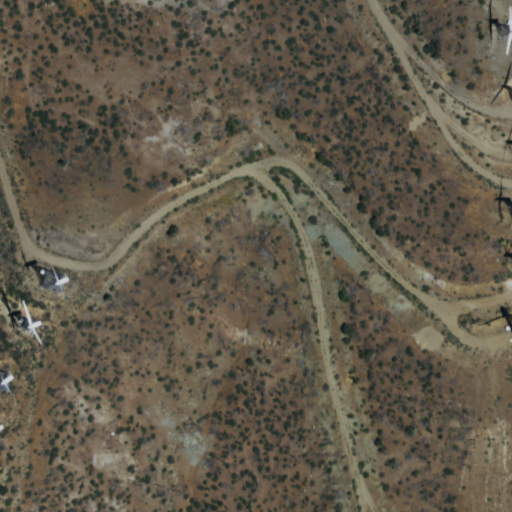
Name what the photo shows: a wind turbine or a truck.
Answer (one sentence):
I can see a wind turbine in this picture.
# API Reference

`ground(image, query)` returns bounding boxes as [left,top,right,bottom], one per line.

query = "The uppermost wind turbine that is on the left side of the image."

[43,266,68,296]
